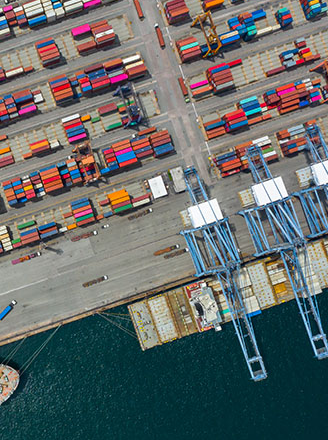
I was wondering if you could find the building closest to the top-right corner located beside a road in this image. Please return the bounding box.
[169,165,187,193]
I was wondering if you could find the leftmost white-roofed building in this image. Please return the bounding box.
[148,174,169,198]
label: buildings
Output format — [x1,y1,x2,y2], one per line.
[148,174,169,198]
[169,165,187,193]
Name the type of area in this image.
port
